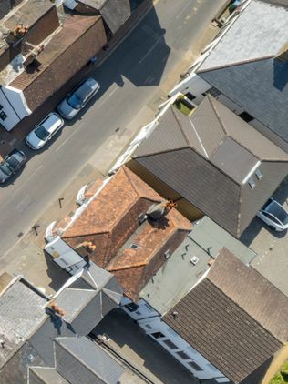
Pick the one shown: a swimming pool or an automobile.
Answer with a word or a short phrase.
automobile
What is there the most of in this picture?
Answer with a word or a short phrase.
buildings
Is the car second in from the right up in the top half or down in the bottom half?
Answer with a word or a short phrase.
top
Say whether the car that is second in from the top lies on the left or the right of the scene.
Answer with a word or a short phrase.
left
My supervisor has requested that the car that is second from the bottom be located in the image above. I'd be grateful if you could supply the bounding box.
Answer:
[0,148,31,185]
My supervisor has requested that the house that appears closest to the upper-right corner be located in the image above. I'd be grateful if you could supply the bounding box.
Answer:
[168,0,288,154]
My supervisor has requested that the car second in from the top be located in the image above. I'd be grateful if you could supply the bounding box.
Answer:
[23,109,71,152]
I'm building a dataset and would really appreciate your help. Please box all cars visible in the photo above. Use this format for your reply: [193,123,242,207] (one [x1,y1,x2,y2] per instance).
[0,148,31,185]
[23,109,71,152]
[54,73,106,120]
[254,201,288,241]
